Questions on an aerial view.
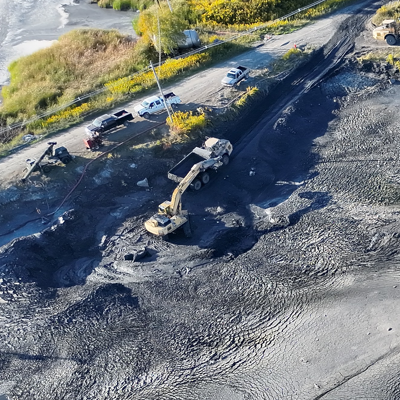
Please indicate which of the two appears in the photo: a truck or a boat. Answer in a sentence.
This aerial view contains a truck.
